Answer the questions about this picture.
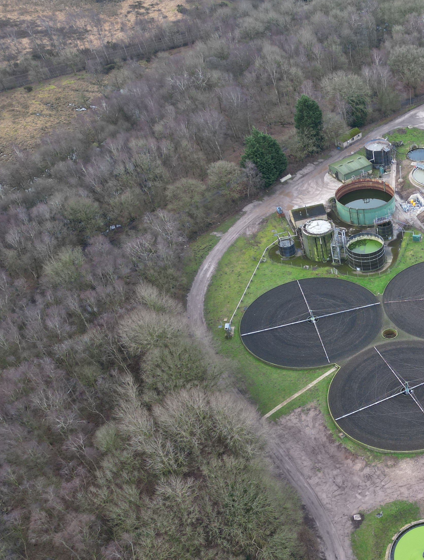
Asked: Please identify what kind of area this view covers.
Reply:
industrial area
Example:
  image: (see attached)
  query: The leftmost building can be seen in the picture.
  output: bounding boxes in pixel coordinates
[287,200,327,229]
